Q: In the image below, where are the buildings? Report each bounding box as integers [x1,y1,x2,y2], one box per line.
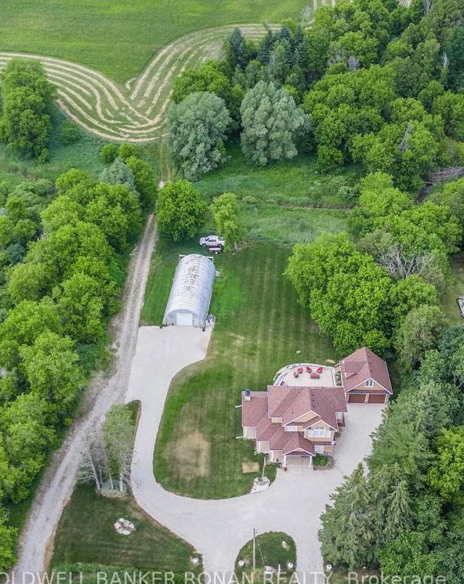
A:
[235,383,347,472]
[162,253,216,325]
